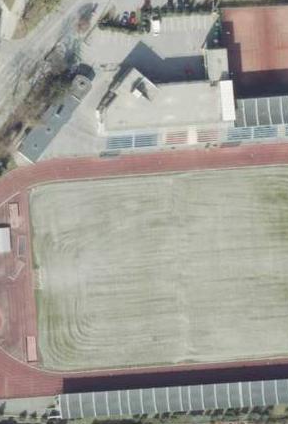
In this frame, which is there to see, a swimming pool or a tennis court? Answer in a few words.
tennis court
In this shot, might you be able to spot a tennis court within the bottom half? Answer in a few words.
No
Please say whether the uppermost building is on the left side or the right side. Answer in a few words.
right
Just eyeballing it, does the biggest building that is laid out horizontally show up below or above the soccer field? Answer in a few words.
above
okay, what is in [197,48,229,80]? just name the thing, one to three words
building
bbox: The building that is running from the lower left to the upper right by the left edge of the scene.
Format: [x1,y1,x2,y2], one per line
[14,95,79,163]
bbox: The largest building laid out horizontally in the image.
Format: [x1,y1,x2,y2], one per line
[88,67,220,131]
